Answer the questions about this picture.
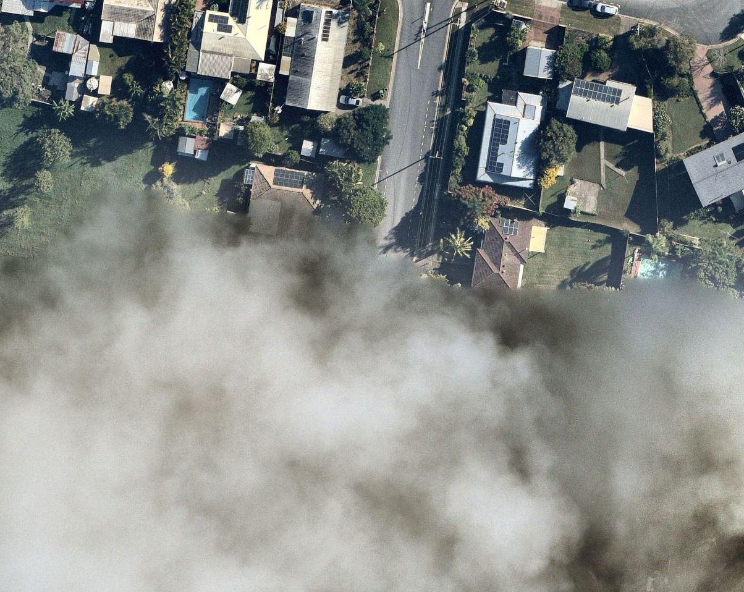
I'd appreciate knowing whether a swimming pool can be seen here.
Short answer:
Yes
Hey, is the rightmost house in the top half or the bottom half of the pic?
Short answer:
top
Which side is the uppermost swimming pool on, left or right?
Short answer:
left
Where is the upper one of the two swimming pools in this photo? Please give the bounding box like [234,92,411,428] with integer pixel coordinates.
[182,76,221,126]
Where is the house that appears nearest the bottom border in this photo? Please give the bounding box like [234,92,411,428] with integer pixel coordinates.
[469,218,547,305]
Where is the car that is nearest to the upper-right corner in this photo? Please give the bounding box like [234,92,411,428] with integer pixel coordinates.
[595,2,618,15]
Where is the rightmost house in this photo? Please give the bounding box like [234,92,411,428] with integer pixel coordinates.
[683,133,744,213]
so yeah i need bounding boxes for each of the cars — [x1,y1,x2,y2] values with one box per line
[340,96,362,105]
[595,2,618,15]
[568,0,595,9]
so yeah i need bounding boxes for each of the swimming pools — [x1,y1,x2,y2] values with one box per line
[182,76,221,126]
[630,249,684,287]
